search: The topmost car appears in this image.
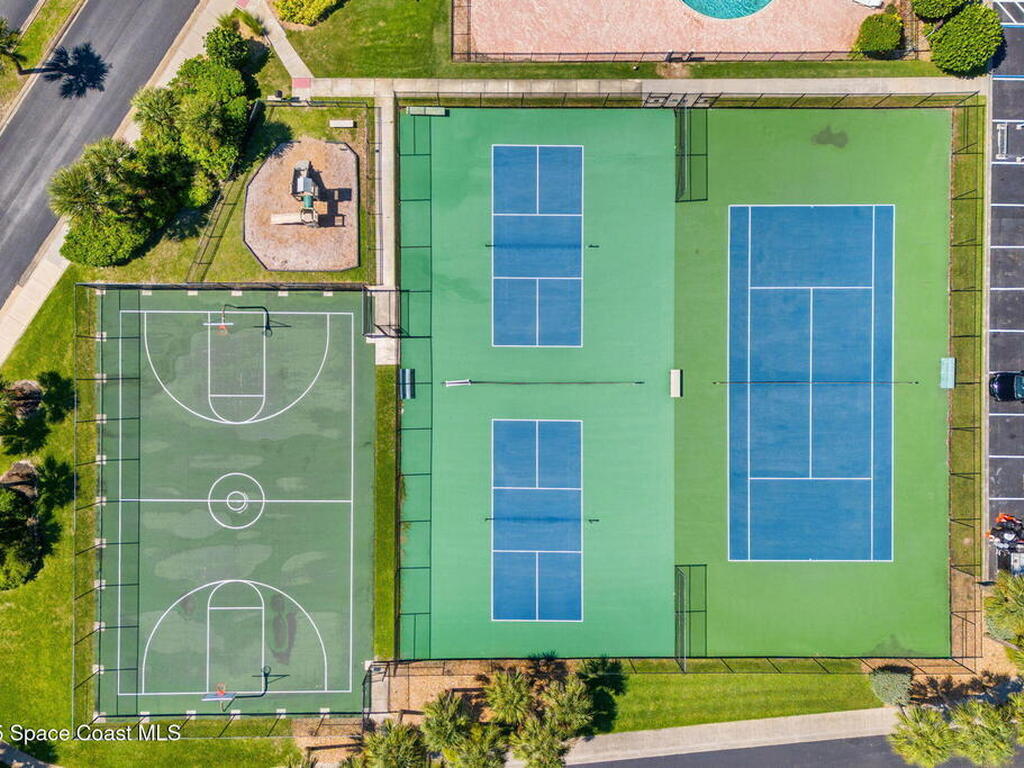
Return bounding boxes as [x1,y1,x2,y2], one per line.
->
[988,370,1024,404]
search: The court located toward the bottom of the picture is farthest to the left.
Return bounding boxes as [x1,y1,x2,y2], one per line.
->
[96,287,376,718]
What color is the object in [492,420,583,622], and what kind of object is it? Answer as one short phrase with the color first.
blue sports court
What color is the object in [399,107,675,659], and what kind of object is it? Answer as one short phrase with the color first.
green sports court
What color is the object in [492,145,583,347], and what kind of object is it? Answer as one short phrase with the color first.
blue sports court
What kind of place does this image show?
sports ground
